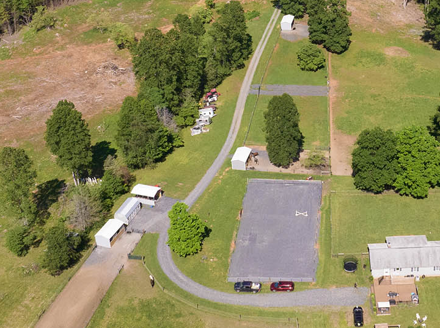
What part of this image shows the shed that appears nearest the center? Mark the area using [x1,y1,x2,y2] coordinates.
[231,146,251,170]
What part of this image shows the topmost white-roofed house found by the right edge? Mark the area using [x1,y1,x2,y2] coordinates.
[370,231,440,278]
